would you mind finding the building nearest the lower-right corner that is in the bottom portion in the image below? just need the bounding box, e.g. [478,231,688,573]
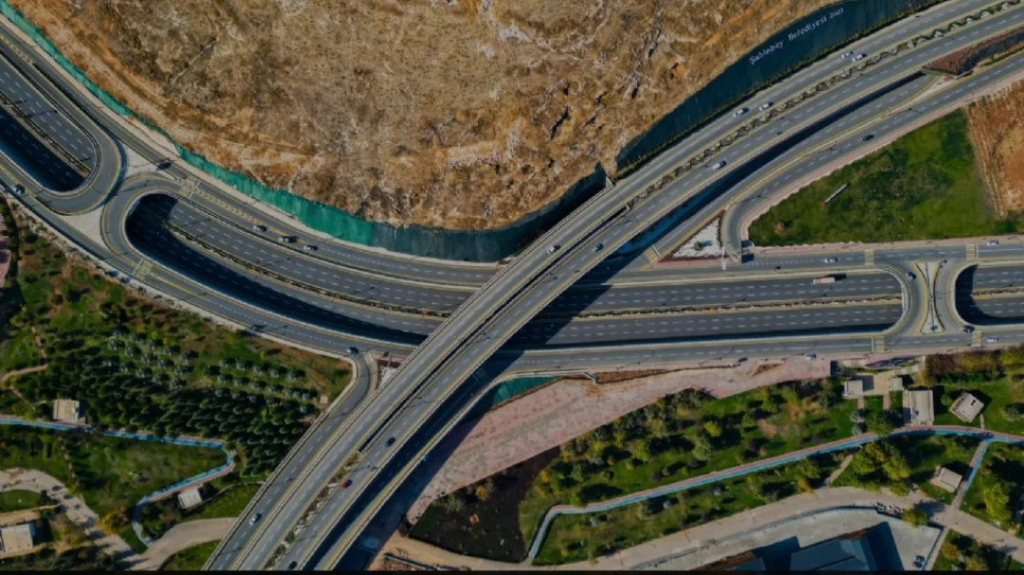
[930,465,961,493]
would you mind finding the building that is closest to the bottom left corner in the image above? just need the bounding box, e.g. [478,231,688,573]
[0,521,40,552]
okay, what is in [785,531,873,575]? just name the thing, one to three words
building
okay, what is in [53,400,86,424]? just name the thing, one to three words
building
